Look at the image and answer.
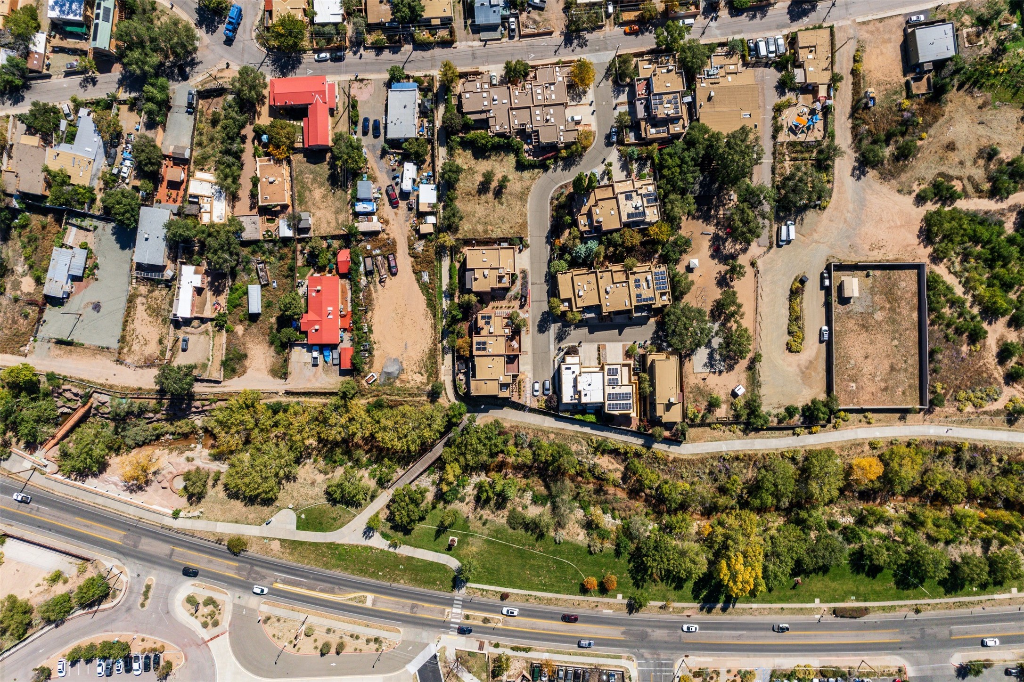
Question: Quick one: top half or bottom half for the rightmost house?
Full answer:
The rightmost house sits in the top half of the picture.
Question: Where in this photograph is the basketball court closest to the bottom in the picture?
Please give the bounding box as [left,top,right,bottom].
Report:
[693,346,729,373]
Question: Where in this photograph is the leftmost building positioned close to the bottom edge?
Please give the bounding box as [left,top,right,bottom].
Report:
[407,642,446,682]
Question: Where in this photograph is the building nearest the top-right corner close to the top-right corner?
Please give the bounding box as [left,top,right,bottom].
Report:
[902,19,956,71]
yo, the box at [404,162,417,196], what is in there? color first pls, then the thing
white vehicle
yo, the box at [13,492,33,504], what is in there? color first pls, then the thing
white vehicle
